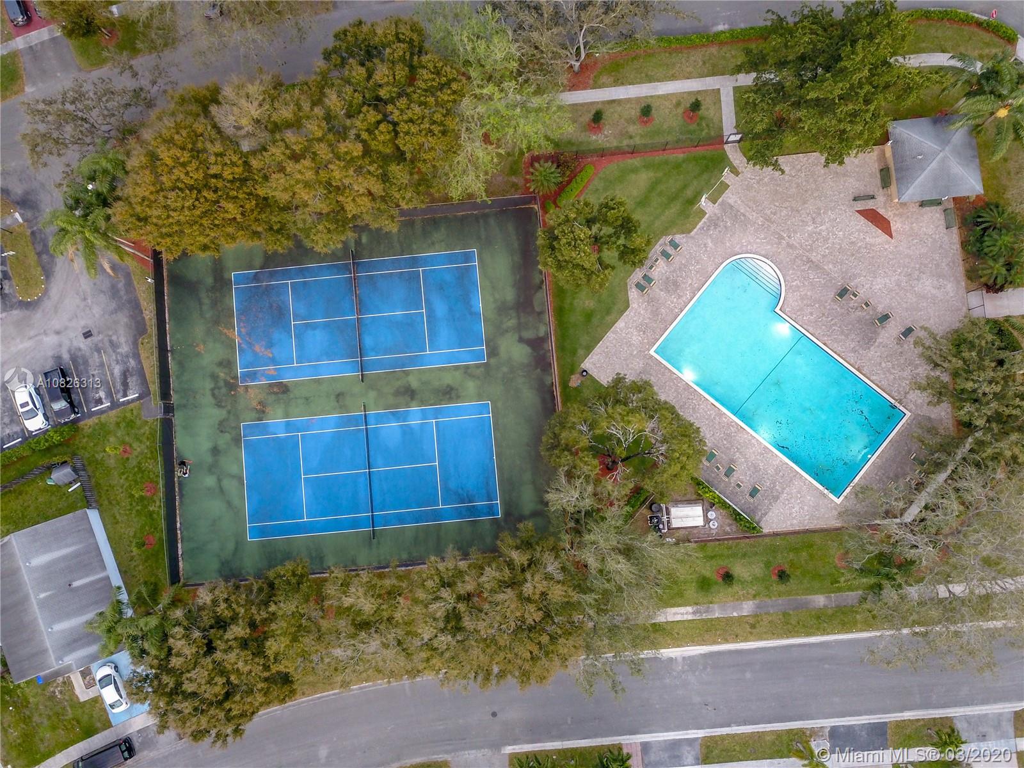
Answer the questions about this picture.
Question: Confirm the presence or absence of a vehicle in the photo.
Yes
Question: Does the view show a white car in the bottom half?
Yes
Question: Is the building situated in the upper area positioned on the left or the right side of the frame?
right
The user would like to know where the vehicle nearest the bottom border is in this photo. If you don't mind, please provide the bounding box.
[76,735,133,768]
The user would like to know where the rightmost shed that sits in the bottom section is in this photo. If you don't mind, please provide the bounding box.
[666,499,709,533]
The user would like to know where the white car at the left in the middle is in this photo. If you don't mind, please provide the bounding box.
[12,382,49,434]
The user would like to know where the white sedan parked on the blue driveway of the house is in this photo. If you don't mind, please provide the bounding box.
[93,663,128,718]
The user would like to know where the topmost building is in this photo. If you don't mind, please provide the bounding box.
[880,115,984,206]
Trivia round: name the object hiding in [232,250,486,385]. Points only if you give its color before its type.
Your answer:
blue tennis court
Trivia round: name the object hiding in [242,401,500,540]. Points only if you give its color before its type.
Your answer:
blue tennis court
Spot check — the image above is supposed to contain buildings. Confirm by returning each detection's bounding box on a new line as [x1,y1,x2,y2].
[51,463,87,484]
[666,499,709,533]
[0,509,136,685]
[880,115,984,206]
